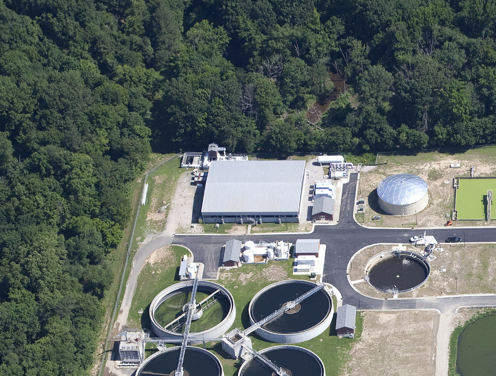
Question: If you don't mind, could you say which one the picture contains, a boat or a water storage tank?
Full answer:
It is a water storage tank that can be seen here.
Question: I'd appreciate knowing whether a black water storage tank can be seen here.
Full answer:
Yes, looking at the shot, I can spot a black water storage tank.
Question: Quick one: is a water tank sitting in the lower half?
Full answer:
Yes, you'll find a water tank in the lower half.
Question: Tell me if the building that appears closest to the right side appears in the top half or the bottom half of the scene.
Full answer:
The building that appears closest to the right side sits in the bottom half of the picture.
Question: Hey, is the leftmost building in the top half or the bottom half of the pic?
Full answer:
The leftmost building sits in the bottom half of the picture.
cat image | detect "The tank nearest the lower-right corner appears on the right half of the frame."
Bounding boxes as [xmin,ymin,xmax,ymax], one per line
[363,246,430,295]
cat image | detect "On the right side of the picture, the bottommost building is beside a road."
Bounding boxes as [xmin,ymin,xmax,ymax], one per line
[336,304,356,334]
